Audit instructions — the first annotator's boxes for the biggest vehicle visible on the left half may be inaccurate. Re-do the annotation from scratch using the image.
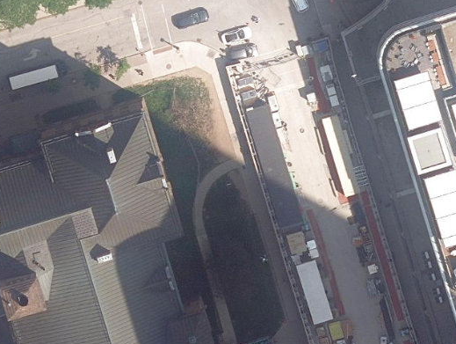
[8,65,62,93]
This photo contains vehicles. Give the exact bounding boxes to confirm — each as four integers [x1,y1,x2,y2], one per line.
[292,0,309,12]
[173,8,209,28]
[225,44,258,61]
[219,27,252,45]
[8,65,62,93]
